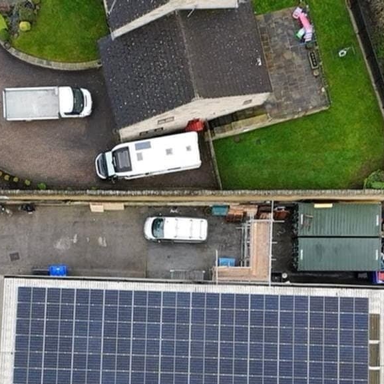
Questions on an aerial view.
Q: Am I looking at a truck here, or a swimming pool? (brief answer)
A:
truck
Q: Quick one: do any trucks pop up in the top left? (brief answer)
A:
Yes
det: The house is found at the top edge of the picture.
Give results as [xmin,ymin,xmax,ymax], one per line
[86,0,276,137]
